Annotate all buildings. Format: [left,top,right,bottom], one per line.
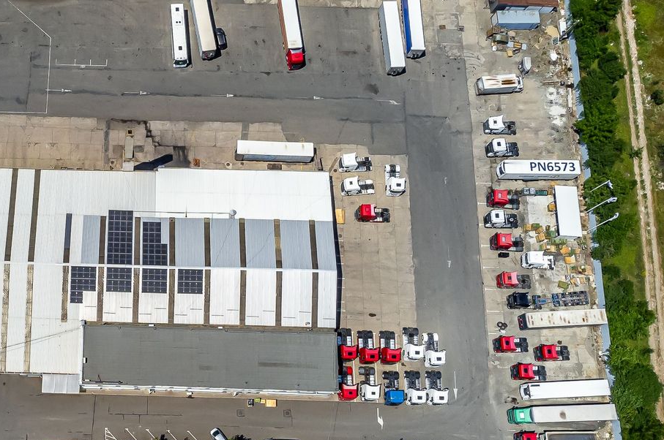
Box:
[0,167,338,379]
[489,0,559,15]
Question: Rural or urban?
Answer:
urban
